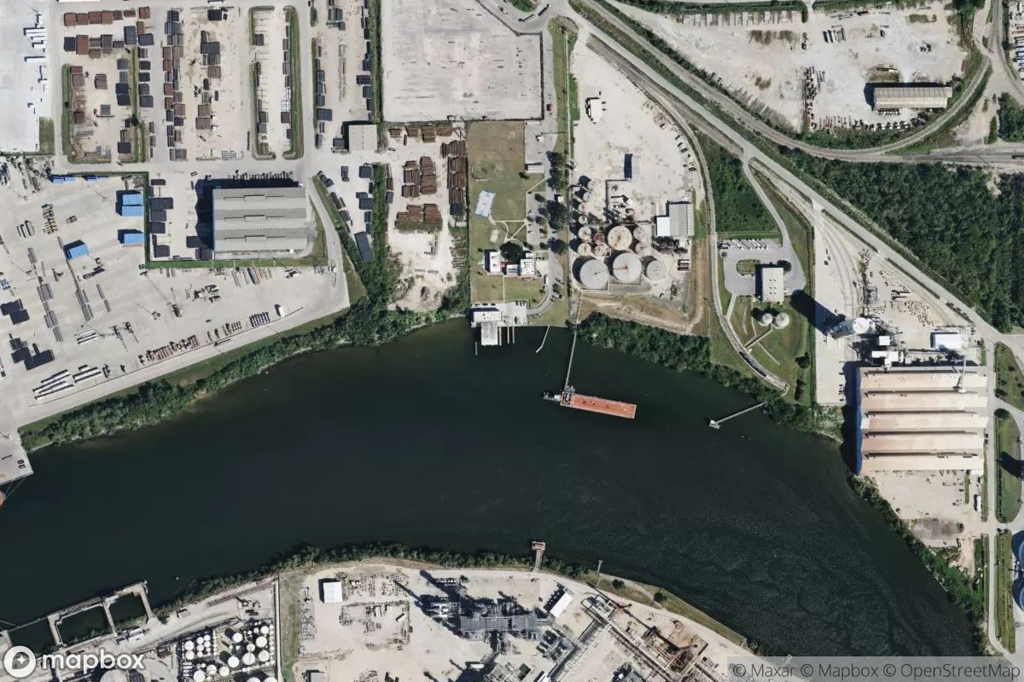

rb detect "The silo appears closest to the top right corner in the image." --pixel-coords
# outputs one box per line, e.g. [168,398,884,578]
[835,318,873,340]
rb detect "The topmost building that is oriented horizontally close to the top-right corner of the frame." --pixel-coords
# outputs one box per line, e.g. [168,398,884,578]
[871,87,953,110]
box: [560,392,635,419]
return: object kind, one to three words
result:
ship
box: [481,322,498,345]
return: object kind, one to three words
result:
pier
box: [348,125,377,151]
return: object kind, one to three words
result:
building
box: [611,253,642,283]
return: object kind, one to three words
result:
storage tank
